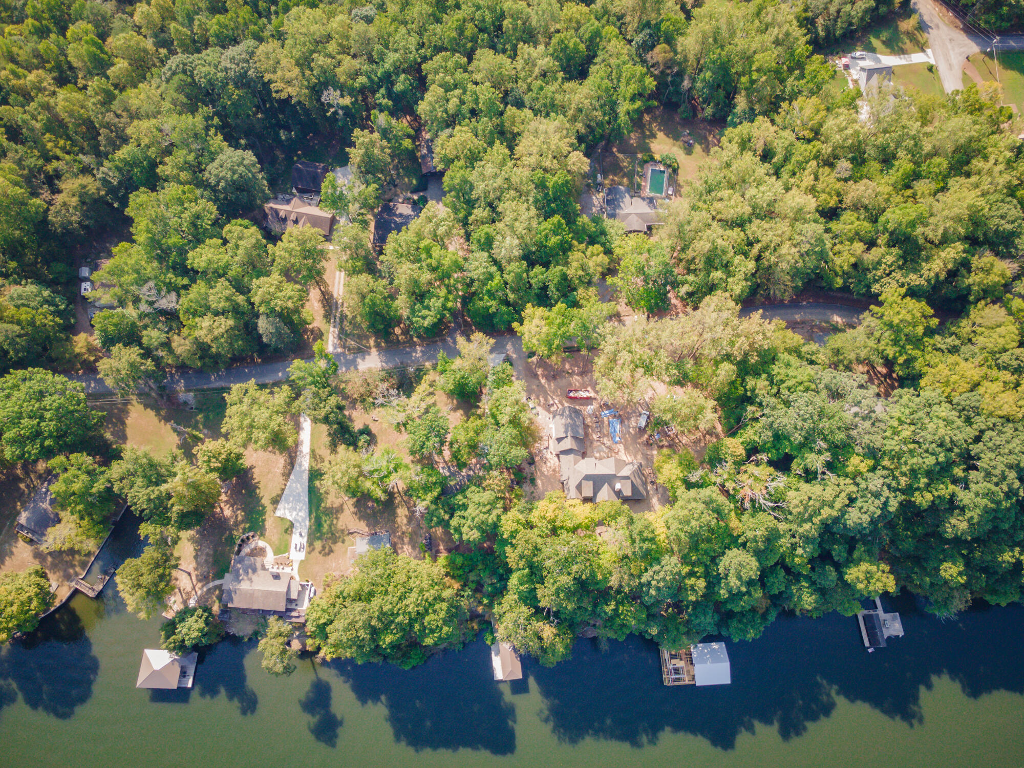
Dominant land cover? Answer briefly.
trees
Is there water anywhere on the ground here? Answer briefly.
Yes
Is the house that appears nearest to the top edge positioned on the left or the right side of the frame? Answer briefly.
right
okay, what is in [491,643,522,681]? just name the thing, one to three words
building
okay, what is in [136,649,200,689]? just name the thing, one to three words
building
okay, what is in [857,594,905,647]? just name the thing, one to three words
pier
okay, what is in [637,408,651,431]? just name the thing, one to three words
car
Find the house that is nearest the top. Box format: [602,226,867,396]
[857,60,897,124]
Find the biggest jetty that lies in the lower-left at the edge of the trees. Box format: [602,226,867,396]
[74,566,117,598]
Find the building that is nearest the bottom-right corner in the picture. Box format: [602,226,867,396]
[690,642,730,686]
